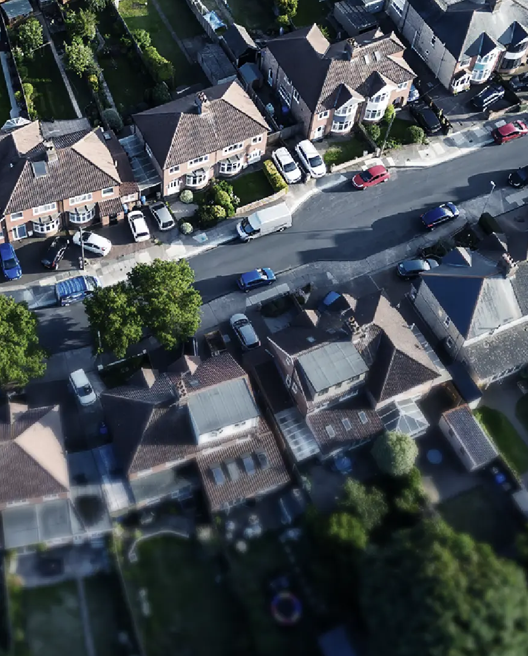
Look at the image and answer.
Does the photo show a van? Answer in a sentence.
Yes, I can see a van in this picture.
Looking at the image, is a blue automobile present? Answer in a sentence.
Yes, I can see a blue automobile in this picture.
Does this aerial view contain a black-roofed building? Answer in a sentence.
Yes, the frame does contain a black-roofed building.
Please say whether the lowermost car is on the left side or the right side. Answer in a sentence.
You can find the lowermost car on the left side of the picture.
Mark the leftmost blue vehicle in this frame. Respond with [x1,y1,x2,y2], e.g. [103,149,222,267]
[0,239,22,282]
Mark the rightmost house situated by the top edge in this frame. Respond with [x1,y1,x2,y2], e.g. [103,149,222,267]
[406,0,528,89]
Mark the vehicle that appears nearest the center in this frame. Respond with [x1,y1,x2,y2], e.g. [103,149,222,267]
[227,311,263,349]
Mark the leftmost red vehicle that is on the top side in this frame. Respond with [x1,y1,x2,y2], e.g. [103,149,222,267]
[351,162,393,189]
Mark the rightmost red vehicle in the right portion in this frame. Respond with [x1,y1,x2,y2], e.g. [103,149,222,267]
[491,119,528,143]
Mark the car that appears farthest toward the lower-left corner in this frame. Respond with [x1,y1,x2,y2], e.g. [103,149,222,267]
[68,365,100,408]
